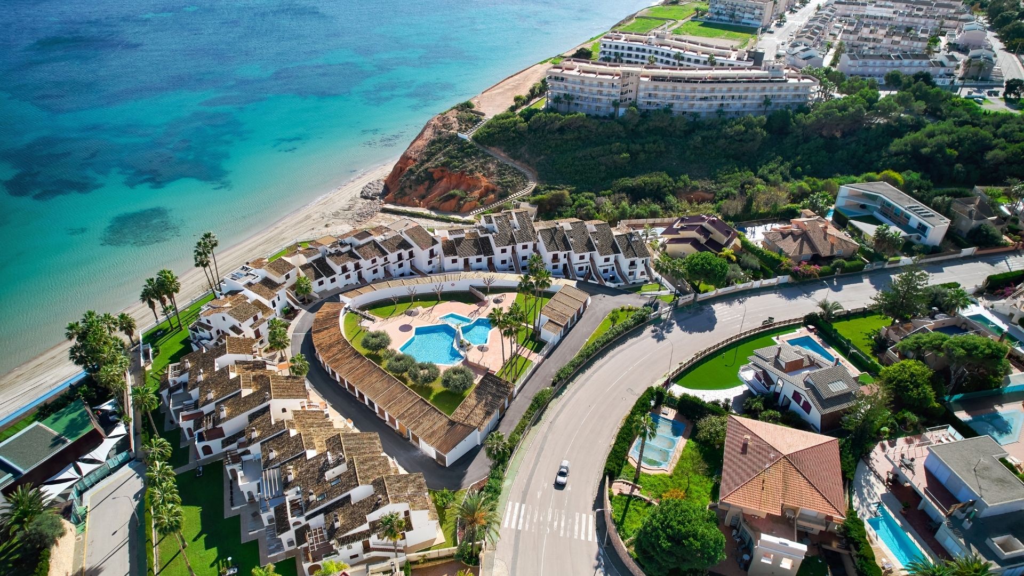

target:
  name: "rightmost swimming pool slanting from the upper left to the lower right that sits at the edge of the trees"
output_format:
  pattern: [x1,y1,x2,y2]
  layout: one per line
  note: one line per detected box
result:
[967,313,1024,353]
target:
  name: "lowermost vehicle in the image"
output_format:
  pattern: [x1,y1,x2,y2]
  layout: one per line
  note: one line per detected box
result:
[554,455,571,486]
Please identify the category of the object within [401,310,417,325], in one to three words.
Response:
umbrella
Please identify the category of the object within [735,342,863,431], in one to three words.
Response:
house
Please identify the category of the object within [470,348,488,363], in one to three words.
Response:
umbrella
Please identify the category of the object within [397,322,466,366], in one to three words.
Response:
swimming pool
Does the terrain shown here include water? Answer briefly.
Yes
